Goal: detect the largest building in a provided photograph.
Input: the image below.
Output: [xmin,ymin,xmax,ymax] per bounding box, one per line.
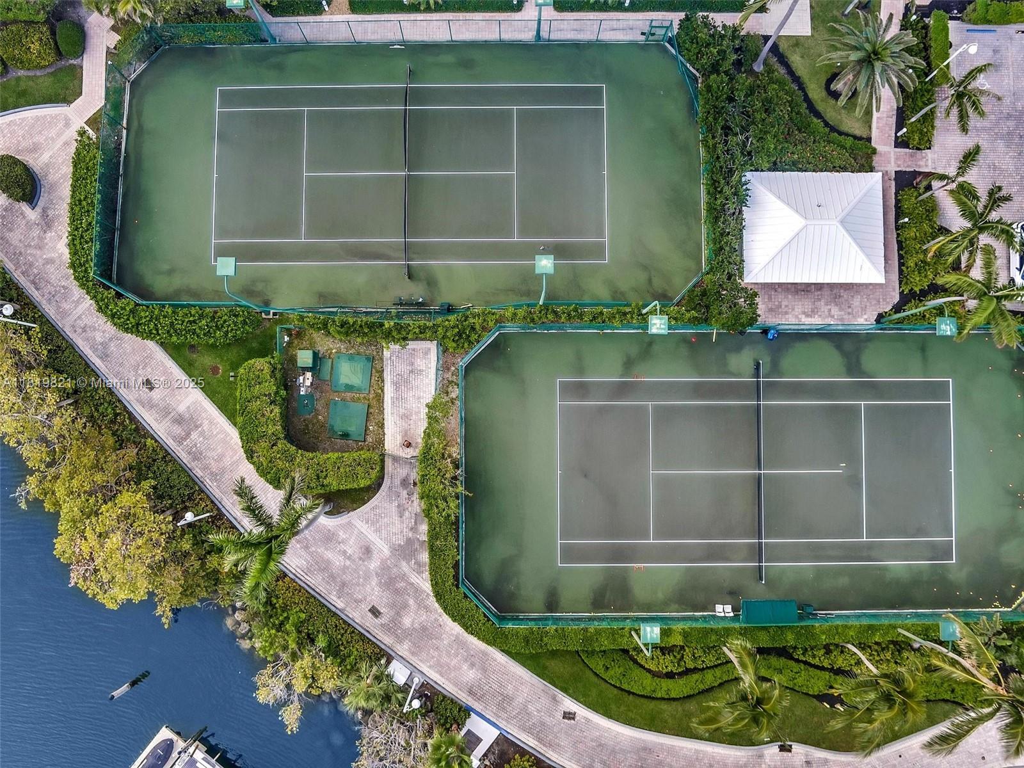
[737,170,887,288]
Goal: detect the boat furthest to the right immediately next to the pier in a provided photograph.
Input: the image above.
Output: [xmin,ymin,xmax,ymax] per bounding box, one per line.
[175,735,230,768]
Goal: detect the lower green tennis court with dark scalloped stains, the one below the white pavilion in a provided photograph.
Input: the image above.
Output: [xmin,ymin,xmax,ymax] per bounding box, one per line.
[464,334,1024,614]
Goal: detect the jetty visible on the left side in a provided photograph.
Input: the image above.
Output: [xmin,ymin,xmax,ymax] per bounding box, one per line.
[127,722,188,768]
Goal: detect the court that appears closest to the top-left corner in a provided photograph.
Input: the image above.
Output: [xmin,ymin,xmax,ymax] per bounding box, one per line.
[115,42,704,309]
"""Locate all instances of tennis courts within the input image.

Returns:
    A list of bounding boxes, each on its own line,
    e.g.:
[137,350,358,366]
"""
[115,42,704,309]
[464,334,1024,614]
